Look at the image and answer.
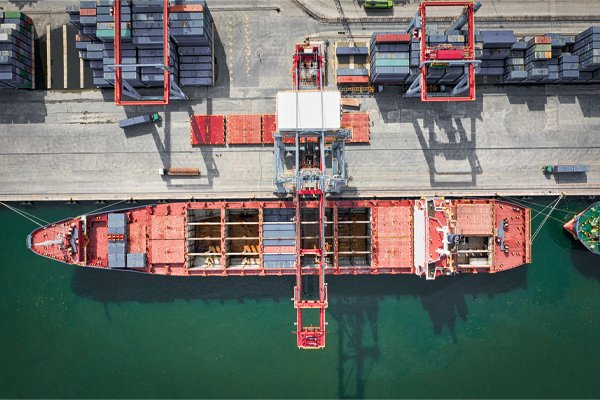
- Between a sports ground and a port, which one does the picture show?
port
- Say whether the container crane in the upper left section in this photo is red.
Yes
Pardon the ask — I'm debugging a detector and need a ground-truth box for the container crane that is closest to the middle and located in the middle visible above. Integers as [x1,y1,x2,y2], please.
[267,45,353,348]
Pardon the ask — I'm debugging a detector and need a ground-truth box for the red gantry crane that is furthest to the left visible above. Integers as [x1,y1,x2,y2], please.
[105,0,192,105]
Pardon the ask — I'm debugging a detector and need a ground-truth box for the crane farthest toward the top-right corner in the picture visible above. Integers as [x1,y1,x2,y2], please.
[398,0,483,102]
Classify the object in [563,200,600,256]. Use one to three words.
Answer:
ship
